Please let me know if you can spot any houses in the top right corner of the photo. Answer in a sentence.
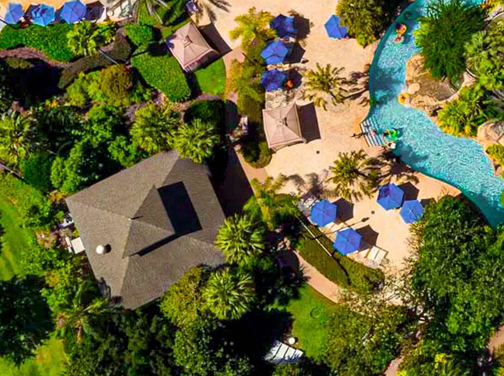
No, I can find no house in the top right corner of the photo.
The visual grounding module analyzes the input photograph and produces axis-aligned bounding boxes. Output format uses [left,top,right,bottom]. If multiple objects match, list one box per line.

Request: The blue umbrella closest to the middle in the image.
[310,200,338,225]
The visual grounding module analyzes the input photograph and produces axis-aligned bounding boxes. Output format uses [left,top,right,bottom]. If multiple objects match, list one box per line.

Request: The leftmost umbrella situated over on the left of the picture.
[5,4,30,25]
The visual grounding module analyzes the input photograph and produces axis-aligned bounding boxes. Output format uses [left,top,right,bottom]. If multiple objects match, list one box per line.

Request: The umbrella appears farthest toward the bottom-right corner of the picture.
[400,200,423,224]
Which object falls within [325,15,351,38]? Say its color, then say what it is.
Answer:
blue umbrella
